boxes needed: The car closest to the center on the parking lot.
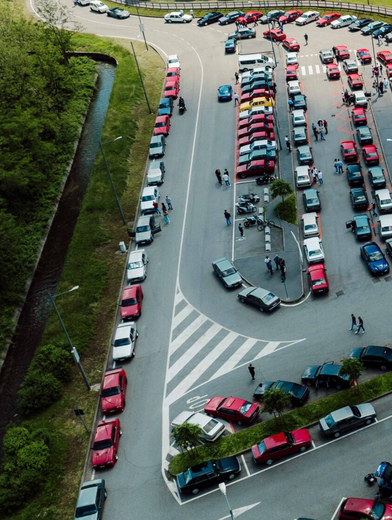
[212,257,243,289]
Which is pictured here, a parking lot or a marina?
parking lot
